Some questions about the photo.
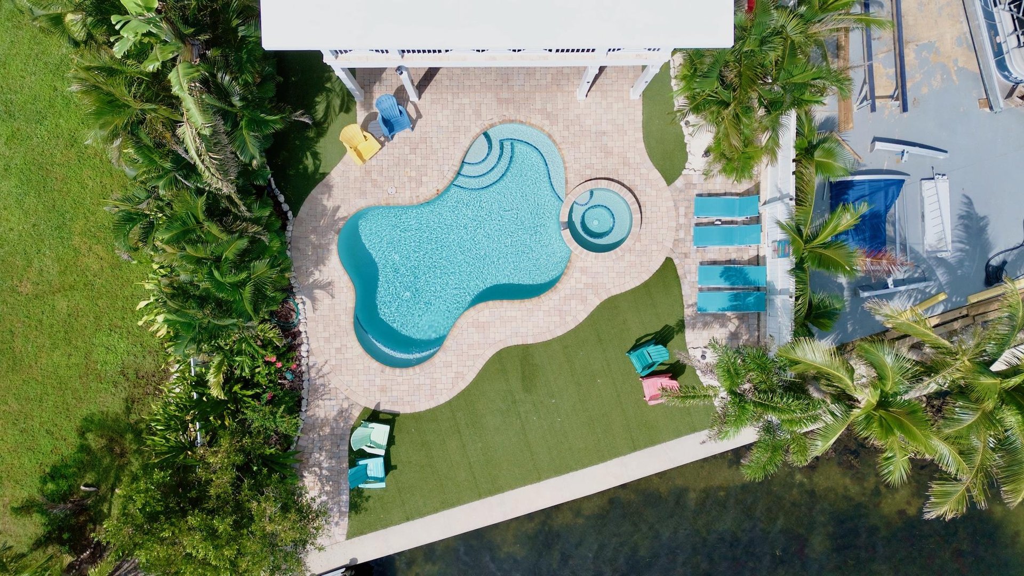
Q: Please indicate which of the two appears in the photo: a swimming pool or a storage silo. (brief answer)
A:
swimming pool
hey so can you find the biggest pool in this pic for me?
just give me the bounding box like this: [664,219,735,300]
[328,114,581,377]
